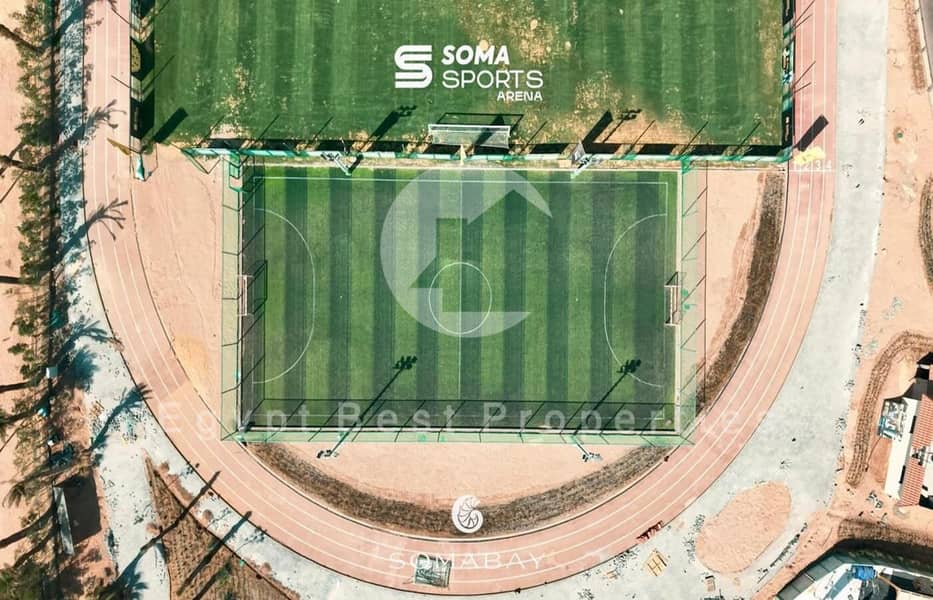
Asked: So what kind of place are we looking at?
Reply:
sports ground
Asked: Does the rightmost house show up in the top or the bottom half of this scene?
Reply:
bottom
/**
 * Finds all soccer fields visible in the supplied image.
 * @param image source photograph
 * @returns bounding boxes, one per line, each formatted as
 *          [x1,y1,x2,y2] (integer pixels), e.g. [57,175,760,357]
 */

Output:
[239,166,683,431]
[147,0,784,158]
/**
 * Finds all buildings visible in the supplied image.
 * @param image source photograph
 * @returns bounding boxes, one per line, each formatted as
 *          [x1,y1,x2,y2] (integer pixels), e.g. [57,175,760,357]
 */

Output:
[765,554,933,600]
[874,367,933,514]
[54,481,88,554]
